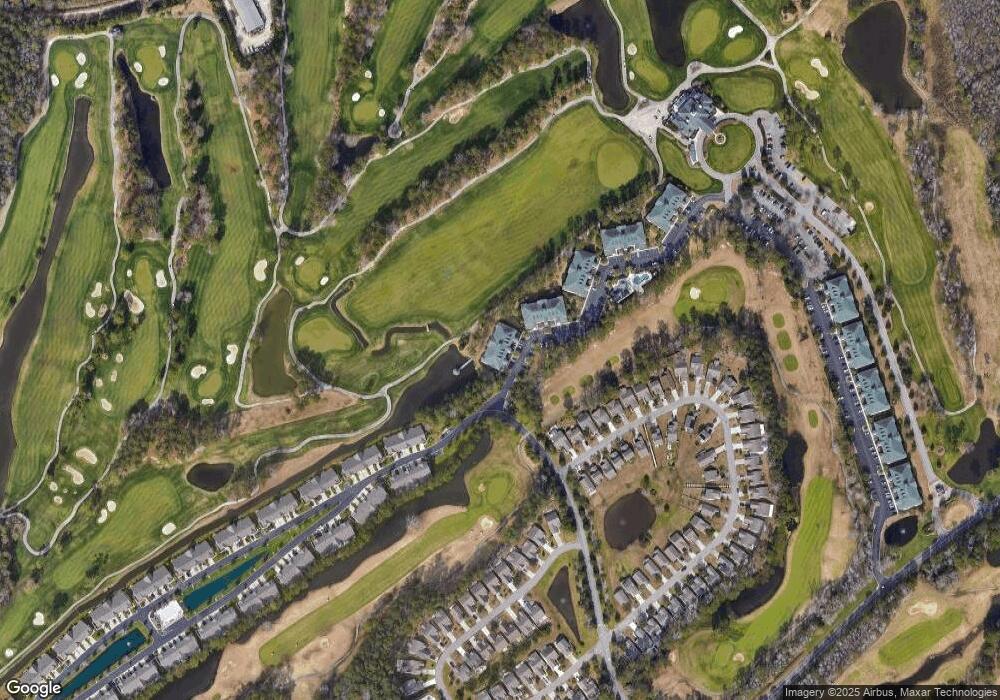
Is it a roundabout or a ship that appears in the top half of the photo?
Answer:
roundabout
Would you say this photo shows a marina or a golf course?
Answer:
golf course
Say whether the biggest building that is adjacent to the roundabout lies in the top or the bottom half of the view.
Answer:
top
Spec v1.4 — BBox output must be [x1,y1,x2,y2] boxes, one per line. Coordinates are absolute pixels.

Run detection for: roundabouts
[696,109,766,179]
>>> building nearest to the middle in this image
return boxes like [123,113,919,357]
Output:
[479,322,521,372]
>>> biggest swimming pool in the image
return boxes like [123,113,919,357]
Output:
[628,272,652,295]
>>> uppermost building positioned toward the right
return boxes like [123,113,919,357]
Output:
[670,85,724,143]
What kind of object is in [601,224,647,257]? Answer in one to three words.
building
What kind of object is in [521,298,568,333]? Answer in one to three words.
building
